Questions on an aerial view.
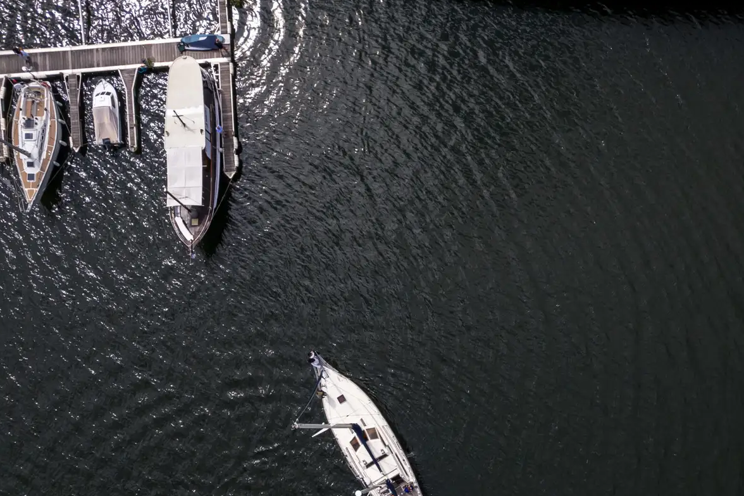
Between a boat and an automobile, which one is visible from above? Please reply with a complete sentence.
There is a boat in the scene.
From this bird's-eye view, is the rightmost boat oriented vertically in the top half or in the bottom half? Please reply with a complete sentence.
Seen from above, the rightmost boat oriented vertically lies in the top half of the view.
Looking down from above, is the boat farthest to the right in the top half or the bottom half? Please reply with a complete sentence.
You can find the boat farthest to the right in the bottom half.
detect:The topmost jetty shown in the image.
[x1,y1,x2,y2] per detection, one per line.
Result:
[215,0,233,36]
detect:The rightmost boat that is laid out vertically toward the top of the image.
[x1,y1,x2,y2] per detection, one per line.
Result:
[164,57,222,256]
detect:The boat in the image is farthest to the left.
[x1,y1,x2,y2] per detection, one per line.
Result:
[0,66,63,211]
